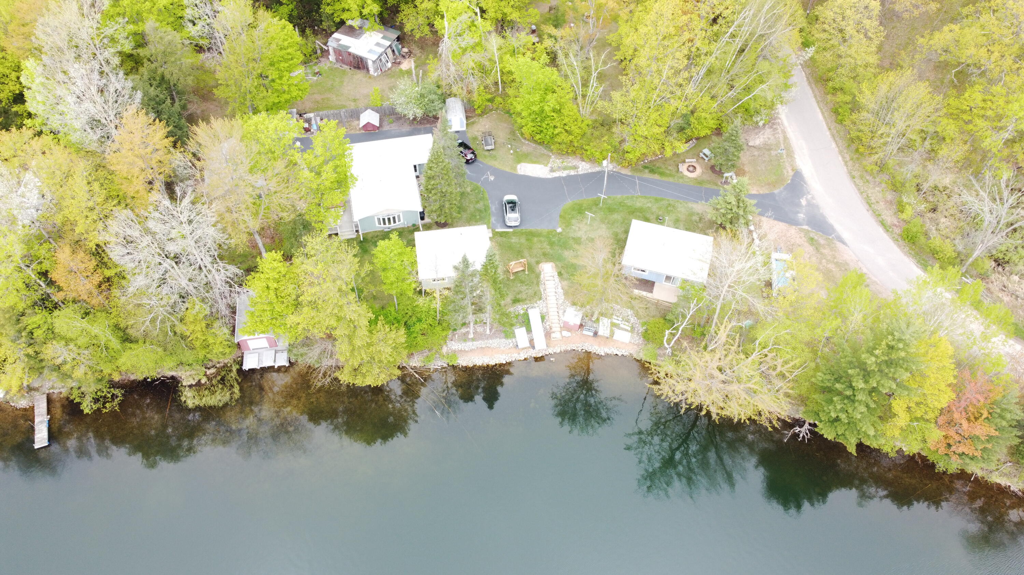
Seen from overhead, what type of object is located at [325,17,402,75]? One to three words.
shed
